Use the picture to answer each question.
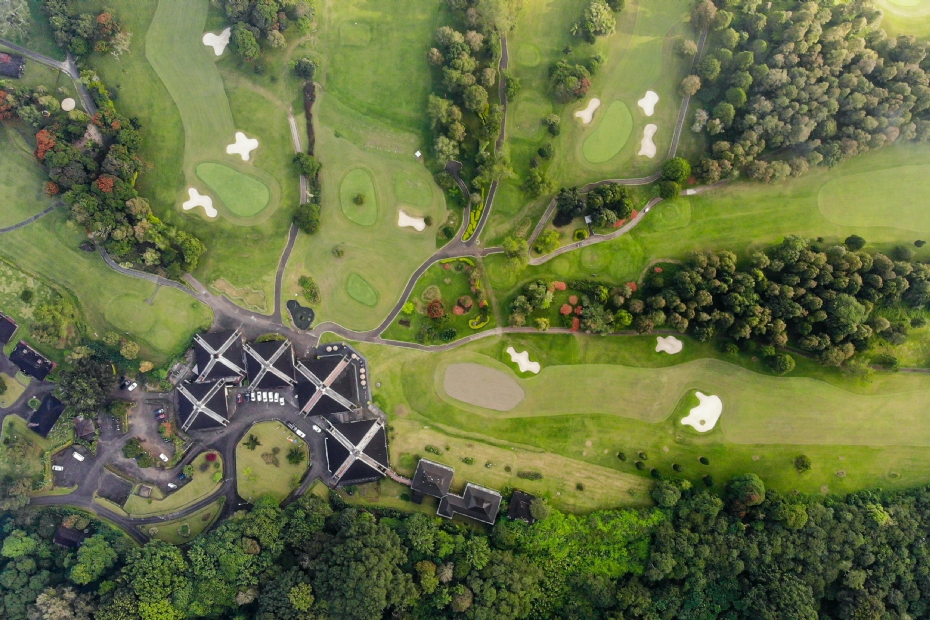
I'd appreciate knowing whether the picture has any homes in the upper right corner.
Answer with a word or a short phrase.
No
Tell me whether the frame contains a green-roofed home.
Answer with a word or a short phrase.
No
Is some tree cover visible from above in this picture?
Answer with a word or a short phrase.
Yes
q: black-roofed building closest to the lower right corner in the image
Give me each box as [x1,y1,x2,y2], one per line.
[508,488,535,523]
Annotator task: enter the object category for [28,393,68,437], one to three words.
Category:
house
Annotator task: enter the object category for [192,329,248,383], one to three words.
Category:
building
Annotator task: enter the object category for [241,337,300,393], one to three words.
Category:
building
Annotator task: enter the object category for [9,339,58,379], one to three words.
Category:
house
